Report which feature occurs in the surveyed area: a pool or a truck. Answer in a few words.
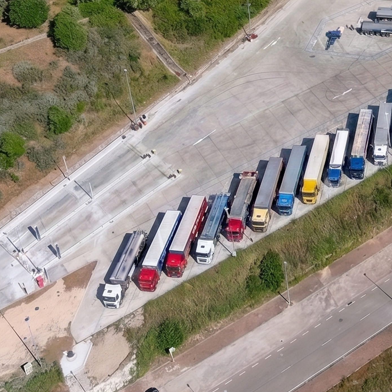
truck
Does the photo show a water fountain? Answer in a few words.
No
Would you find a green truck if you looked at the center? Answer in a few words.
No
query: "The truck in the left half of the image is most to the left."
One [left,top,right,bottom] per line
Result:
[103,229,151,307]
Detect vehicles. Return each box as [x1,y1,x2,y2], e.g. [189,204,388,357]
[224,169,257,243]
[164,196,209,277]
[299,133,331,205]
[371,101,392,169]
[146,386,158,392]
[325,129,350,188]
[250,155,284,231]
[103,229,151,307]
[347,109,373,180]
[325,22,342,45]
[276,144,306,219]
[192,191,231,265]
[376,8,392,22]
[137,210,183,293]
